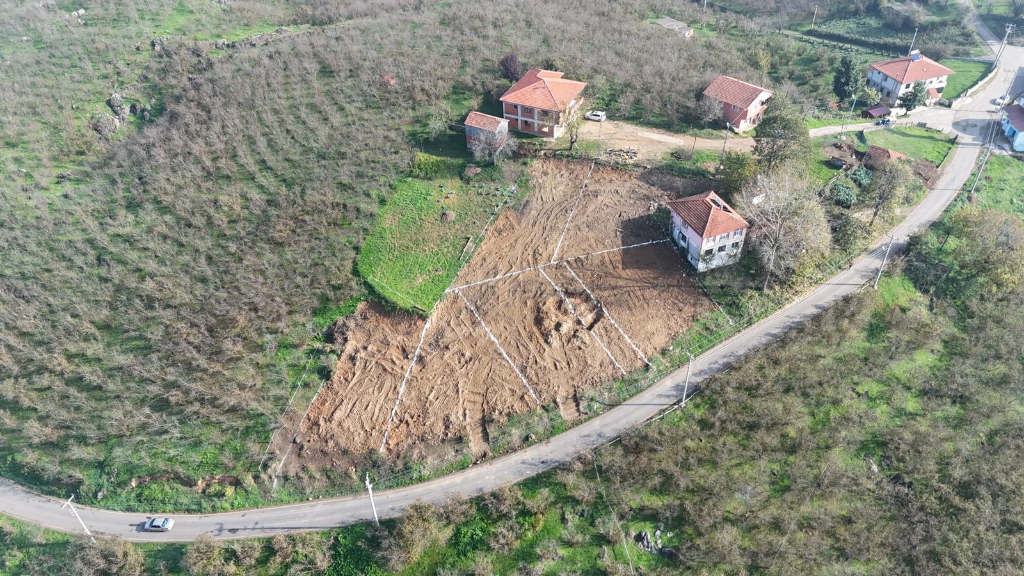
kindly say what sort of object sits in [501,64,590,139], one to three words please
house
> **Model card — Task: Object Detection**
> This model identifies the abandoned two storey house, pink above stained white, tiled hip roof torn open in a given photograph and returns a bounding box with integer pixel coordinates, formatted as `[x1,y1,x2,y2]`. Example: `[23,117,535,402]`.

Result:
[665,191,748,271]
